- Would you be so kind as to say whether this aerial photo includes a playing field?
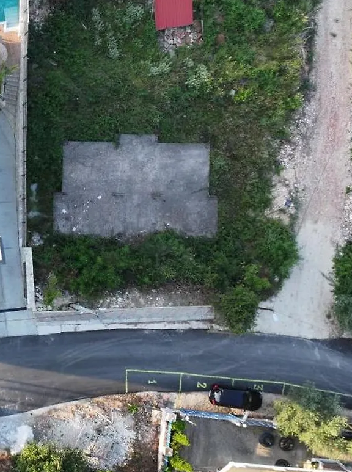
No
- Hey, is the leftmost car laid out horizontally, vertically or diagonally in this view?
horizontally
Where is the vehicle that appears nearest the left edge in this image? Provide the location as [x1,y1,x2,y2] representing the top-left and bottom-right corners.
[208,384,261,415]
